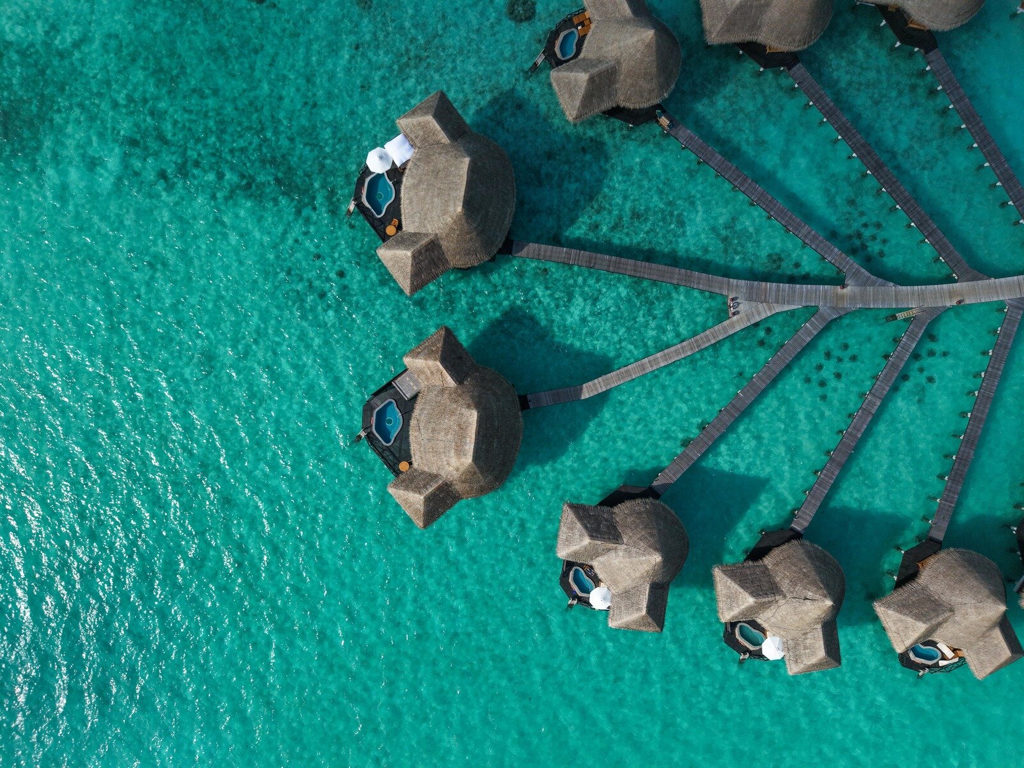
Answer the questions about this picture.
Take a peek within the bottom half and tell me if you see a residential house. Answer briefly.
Yes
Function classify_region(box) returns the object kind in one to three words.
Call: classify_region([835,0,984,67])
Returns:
house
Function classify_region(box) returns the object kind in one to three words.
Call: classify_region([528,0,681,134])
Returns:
house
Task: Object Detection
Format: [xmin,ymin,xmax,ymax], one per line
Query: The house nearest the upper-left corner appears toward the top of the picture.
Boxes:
[345,90,516,297]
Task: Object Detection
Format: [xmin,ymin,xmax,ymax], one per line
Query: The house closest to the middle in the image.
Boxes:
[354,326,528,528]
